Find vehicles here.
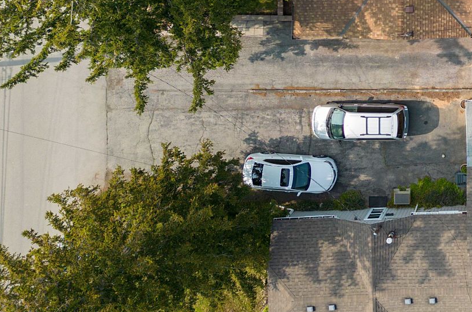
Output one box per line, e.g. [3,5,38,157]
[314,97,412,146]
[242,150,339,198]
